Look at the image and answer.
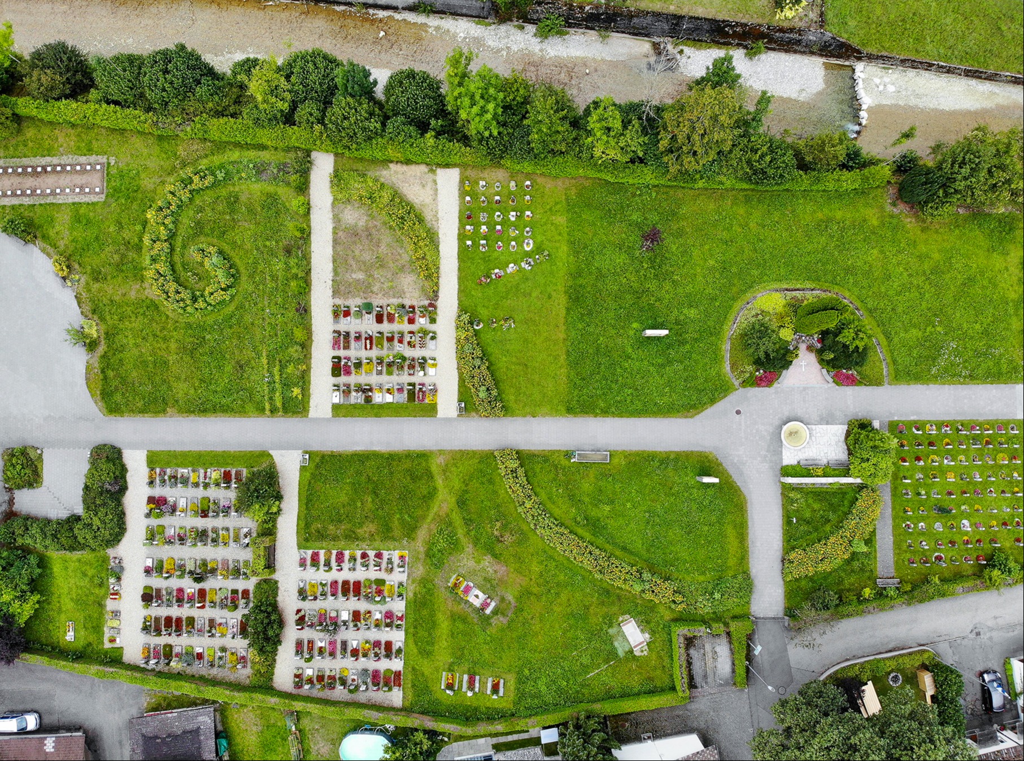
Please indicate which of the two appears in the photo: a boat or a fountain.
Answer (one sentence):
Looking from above, you can make out a fountain.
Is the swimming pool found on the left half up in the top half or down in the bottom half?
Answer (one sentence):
Seen from above, the swimming pool found on the left half lies in the bottom half of the view.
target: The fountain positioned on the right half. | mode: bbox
[780,421,810,449]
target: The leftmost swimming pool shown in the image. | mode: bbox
[340,728,394,761]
